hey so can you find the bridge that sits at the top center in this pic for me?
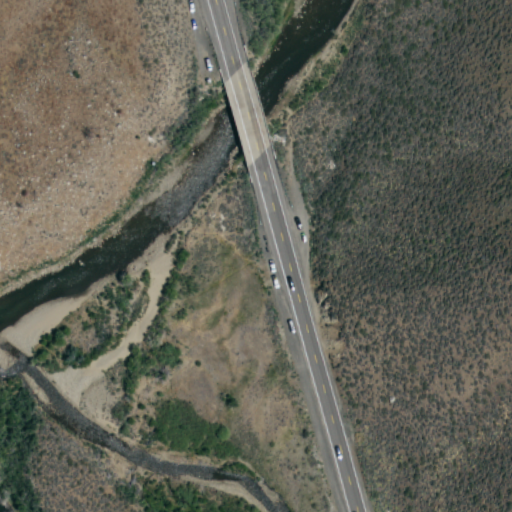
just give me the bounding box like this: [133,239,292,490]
[223,56,272,170]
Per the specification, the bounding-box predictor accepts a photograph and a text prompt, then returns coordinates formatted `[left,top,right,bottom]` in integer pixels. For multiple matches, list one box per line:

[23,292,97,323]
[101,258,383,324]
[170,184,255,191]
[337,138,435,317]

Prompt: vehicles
[206,58,214,72]
[289,320,296,334]
[192,18,198,30]
[301,232,308,245]
[270,259,278,274]
[190,0,196,14]
[288,278,296,291]
[274,275,282,290]
[294,216,302,230]
[335,447,342,460]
